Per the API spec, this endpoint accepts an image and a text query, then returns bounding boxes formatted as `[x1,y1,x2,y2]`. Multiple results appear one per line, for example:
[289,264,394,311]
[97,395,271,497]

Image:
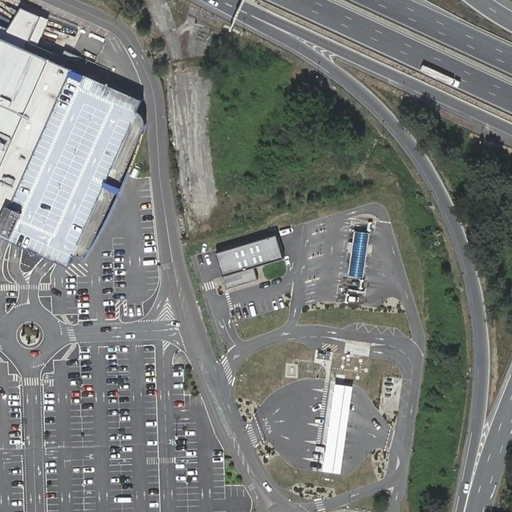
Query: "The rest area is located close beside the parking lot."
[185,203,425,512]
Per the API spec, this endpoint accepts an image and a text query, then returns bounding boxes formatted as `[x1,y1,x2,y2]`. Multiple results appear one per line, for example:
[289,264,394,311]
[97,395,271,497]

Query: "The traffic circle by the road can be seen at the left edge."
[0,302,63,368]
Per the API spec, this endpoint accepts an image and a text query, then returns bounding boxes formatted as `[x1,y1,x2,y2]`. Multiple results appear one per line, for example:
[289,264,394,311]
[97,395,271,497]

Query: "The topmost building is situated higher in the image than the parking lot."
[6,8,53,56]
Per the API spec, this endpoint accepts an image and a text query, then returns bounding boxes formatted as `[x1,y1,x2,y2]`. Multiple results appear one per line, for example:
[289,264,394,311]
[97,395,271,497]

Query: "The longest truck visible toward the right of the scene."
[420,62,458,85]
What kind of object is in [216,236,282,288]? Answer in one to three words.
building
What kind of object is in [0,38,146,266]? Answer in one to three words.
building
